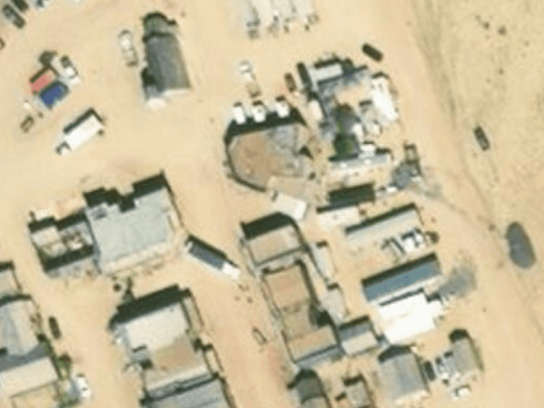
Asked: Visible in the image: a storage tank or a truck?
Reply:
truck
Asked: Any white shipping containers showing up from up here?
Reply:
No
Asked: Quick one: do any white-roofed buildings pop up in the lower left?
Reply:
Yes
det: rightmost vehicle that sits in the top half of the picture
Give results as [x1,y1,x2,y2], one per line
[473,127,489,151]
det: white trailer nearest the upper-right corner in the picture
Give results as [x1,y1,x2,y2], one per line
[372,74,401,124]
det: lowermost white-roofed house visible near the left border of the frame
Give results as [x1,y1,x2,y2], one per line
[0,344,58,400]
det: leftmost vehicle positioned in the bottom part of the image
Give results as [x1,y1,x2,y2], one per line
[47,317,62,340]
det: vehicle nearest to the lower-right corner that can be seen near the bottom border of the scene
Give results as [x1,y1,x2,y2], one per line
[453,386,471,399]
